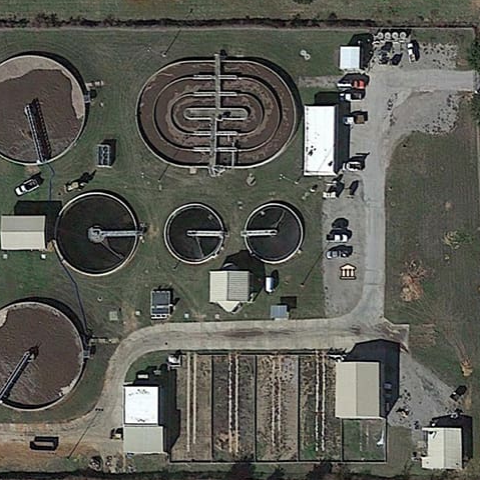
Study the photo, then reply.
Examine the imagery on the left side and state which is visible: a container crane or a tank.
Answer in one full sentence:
There is a tank on the left side.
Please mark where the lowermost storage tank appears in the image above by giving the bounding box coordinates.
[0,301,92,410]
